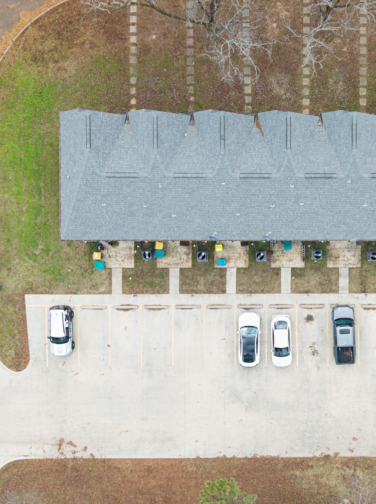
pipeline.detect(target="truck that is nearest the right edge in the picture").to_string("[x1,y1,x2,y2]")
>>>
[330,305,357,367]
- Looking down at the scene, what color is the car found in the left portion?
white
